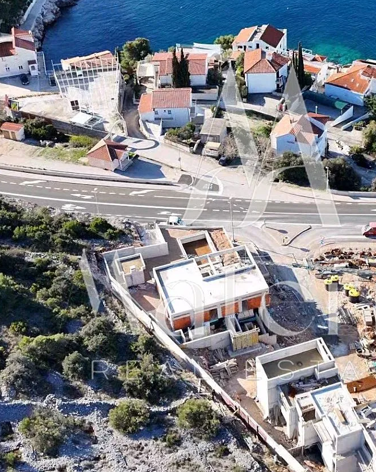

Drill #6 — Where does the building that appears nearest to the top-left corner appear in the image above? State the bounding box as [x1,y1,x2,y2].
[0,25,44,77]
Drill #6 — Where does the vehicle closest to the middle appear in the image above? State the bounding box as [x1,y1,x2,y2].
[156,213,184,226]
